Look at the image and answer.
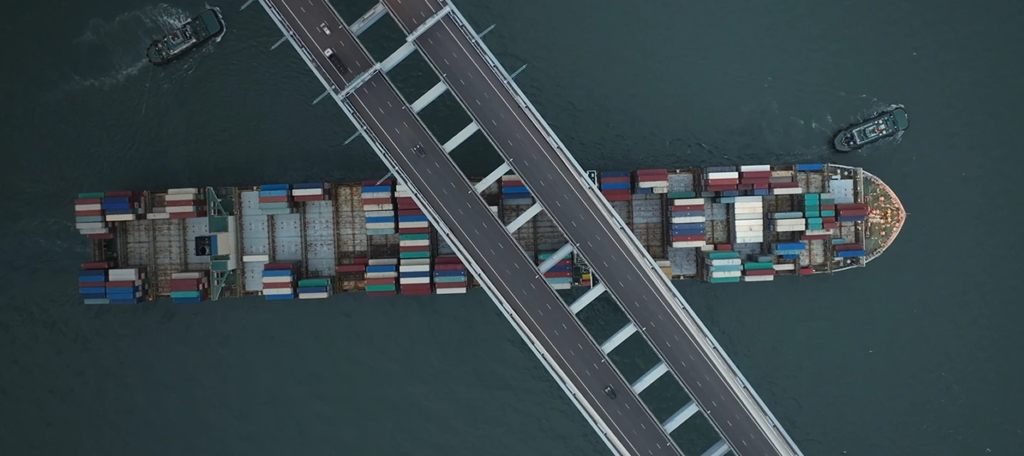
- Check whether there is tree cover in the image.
No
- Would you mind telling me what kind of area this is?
port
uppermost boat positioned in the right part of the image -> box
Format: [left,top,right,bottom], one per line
[834,104,911,153]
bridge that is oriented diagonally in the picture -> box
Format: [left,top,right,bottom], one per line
[240,0,805,456]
